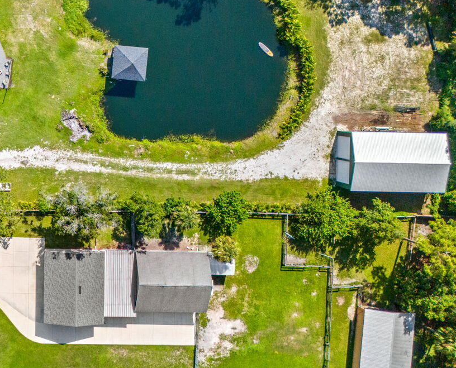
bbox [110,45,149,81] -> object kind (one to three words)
building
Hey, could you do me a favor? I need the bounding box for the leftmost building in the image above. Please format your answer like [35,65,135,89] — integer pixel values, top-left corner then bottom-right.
[42,249,104,327]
